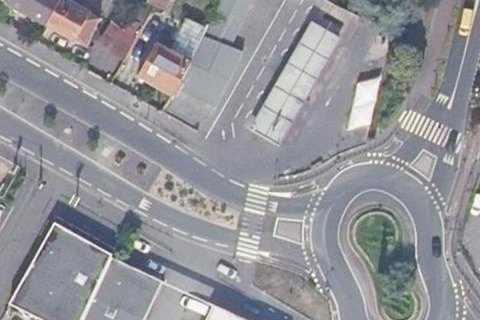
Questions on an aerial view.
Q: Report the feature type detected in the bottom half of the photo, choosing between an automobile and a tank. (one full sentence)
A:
It is an automobile that can be seen in the bottom half of the photo.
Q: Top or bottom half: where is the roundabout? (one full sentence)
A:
It is in the bottom half that the roundabout appears.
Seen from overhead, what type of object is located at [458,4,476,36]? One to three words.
vehicle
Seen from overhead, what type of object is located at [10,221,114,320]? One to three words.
building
